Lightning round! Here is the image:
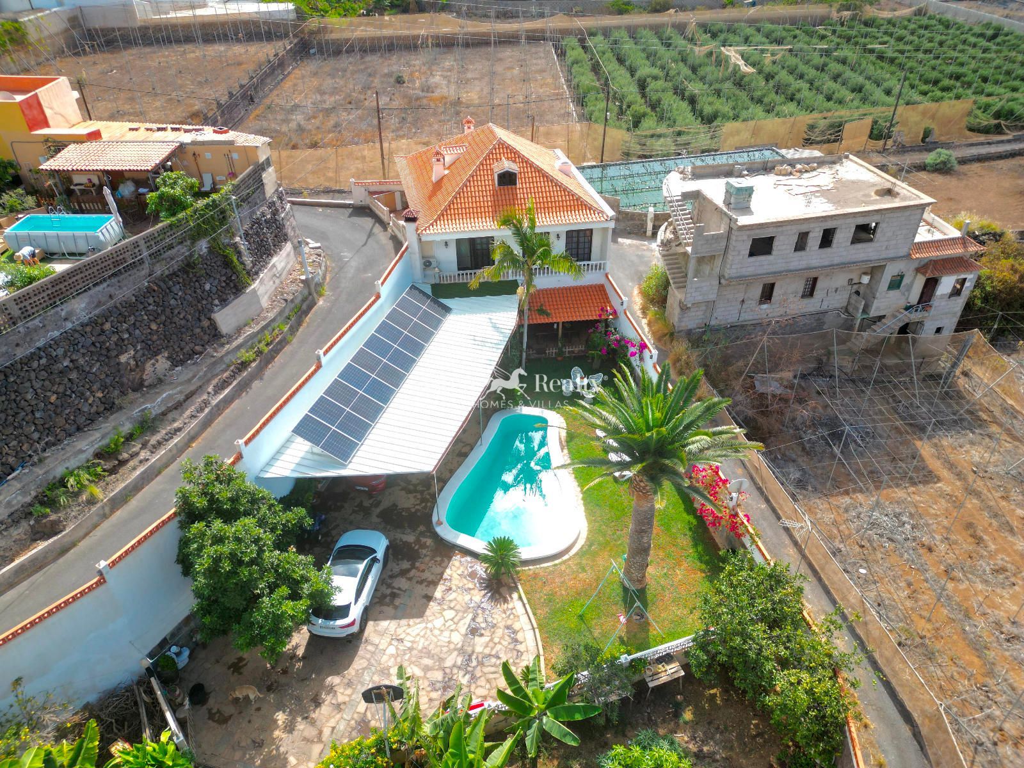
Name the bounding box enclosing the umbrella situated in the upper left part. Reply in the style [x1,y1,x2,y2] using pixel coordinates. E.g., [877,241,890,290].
[103,186,125,232]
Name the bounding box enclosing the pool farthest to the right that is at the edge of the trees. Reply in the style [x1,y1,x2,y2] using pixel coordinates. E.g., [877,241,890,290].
[432,407,586,565]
